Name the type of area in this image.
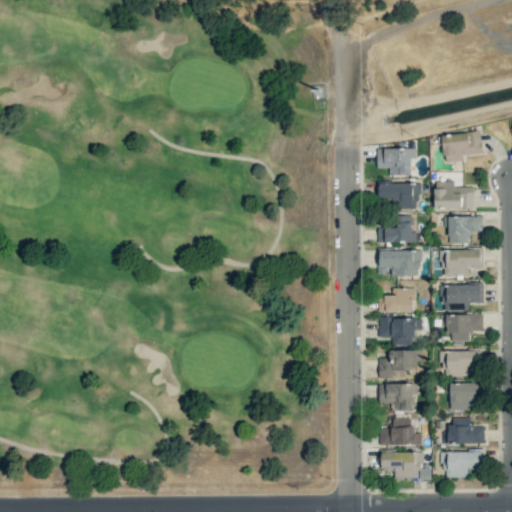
golf course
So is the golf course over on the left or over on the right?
left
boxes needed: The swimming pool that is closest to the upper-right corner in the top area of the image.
[412,156,430,178]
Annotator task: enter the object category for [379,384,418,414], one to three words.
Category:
house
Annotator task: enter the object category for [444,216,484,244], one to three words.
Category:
house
